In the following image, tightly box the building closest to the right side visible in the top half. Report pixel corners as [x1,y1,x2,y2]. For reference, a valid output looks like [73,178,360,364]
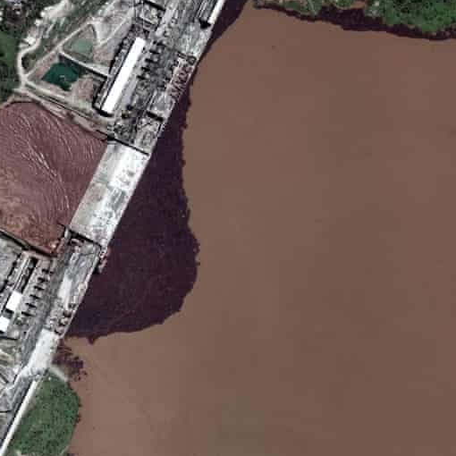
[93,30,150,118]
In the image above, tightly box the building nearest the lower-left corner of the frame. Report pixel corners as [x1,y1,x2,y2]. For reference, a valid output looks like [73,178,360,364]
[0,247,45,336]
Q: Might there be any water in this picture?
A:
Yes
